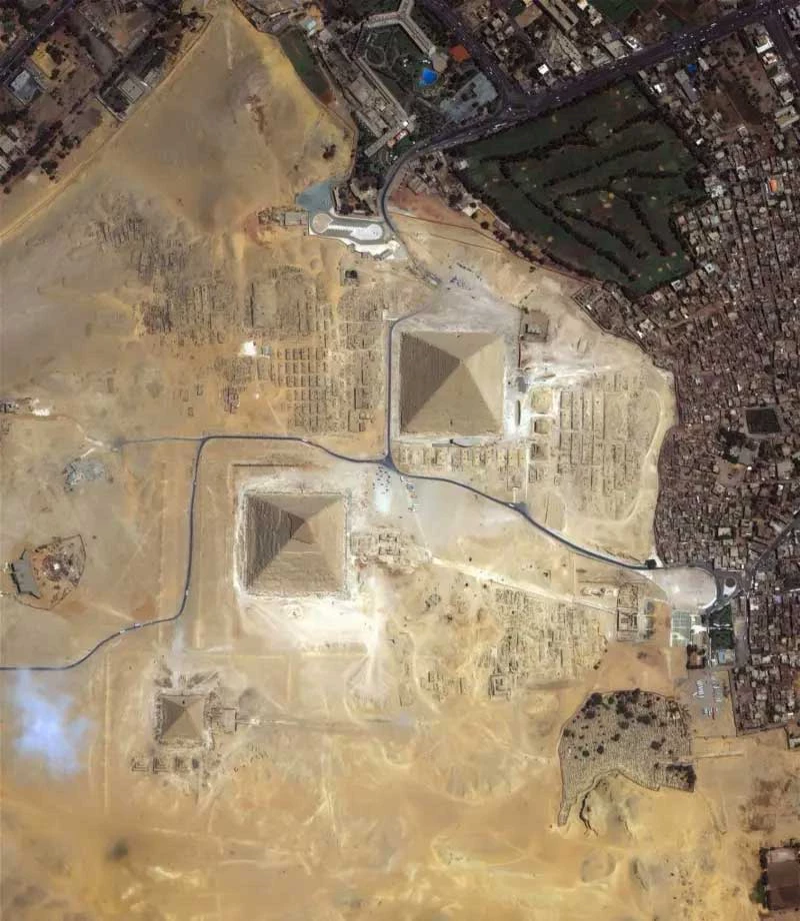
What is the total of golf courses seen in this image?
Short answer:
one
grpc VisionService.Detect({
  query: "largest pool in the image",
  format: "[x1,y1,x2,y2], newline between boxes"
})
[419,67,440,86]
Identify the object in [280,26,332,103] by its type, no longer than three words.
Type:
sports field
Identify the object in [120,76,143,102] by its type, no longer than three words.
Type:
house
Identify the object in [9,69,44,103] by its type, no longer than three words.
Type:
building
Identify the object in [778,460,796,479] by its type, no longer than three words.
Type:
building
